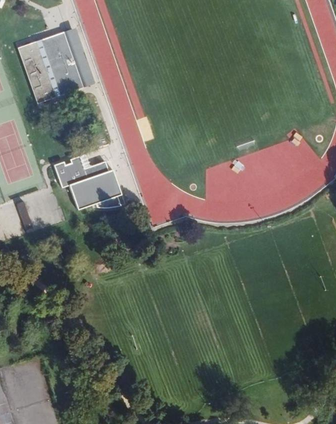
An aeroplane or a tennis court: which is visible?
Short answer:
tennis court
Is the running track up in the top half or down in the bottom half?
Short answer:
top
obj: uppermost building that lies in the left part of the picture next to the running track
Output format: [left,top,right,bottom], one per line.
[18,28,95,104]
